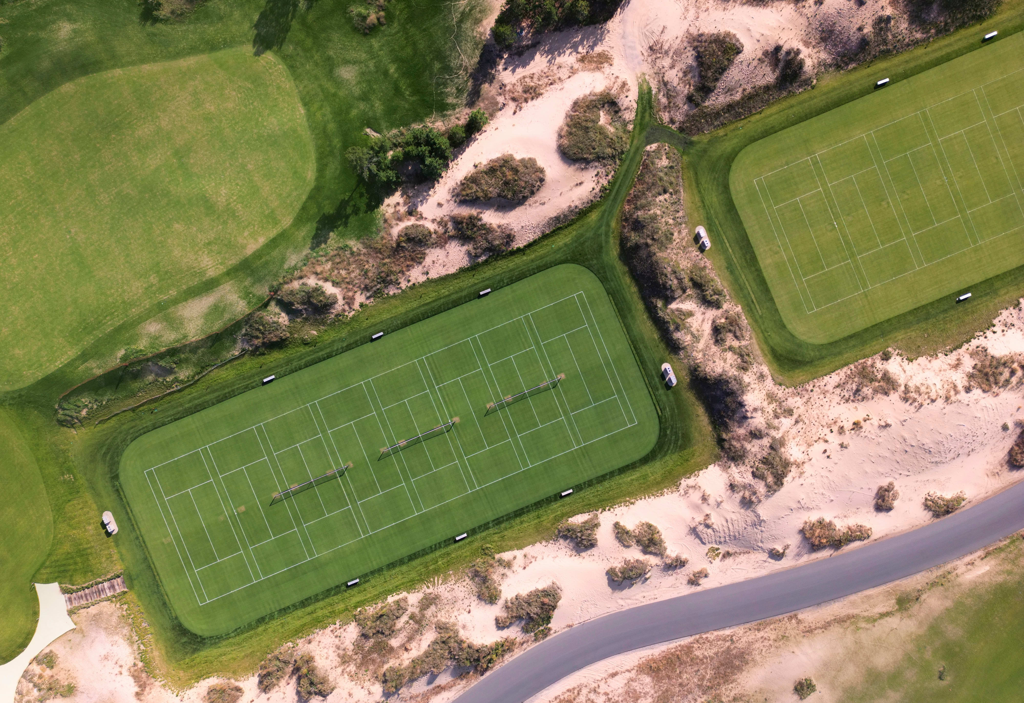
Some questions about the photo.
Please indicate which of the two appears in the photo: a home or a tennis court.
tennis court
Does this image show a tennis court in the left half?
Yes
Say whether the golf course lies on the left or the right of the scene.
left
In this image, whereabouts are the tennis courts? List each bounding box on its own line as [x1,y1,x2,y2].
[916,91,1023,247]
[359,361,468,516]
[198,428,307,583]
[252,405,361,561]
[467,317,575,471]
[306,383,414,538]
[755,158,862,313]
[145,450,254,605]
[808,136,916,291]
[413,339,522,494]
[521,291,637,449]
[862,113,970,269]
